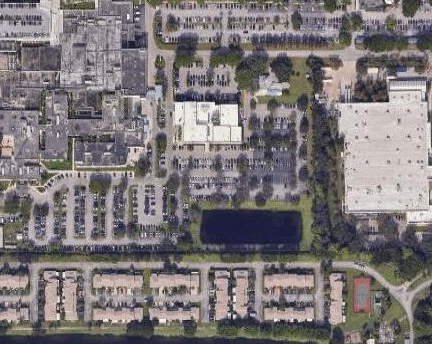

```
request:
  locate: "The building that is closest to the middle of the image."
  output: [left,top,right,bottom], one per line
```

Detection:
[174,101,241,144]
